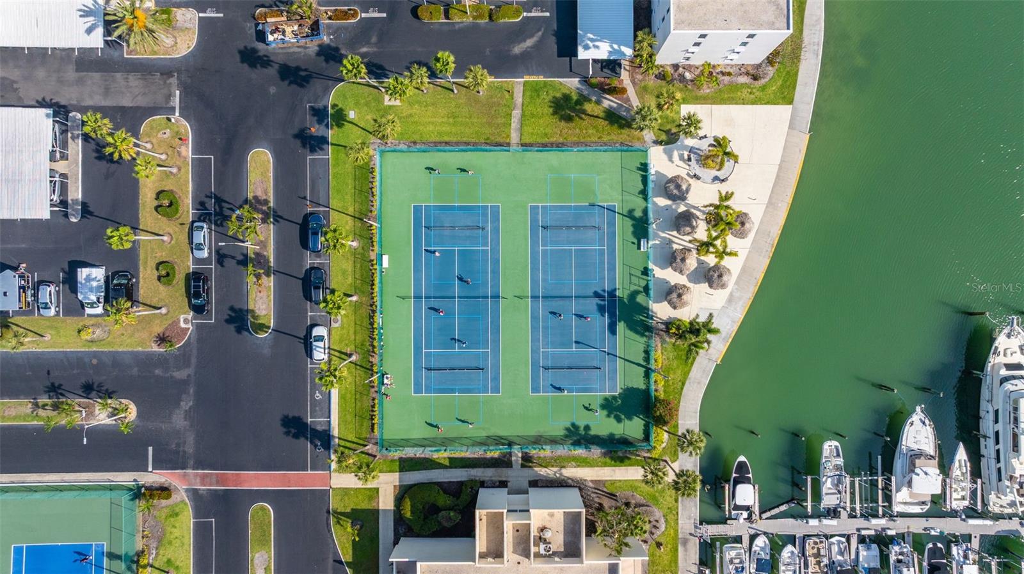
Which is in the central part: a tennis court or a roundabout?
tennis court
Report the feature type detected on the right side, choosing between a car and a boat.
boat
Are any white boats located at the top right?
No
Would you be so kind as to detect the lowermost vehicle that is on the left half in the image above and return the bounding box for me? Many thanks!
[309,325,328,362]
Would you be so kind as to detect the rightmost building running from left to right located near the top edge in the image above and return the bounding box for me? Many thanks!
[652,0,794,62]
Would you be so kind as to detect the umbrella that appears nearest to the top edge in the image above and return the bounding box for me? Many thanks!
[663,175,690,202]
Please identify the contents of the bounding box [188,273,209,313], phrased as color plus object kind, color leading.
black car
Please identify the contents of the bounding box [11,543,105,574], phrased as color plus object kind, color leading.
blue tennis court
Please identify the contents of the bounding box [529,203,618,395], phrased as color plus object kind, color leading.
blue tennis court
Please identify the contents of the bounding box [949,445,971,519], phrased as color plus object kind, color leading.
white boat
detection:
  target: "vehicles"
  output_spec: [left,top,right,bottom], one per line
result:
[53,122,64,160]
[35,280,57,317]
[188,273,209,313]
[191,220,209,259]
[306,213,325,252]
[307,266,325,304]
[309,325,328,362]
[107,270,130,313]
[75,269,106,316]
[53,168,64,205]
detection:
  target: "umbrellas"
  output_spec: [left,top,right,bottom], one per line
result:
[663,175,690,202]
[666,283,691,309]
[669,248,696,275]
[705,264,730,290]
[674,210,699,236]
[731,213,754,238]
